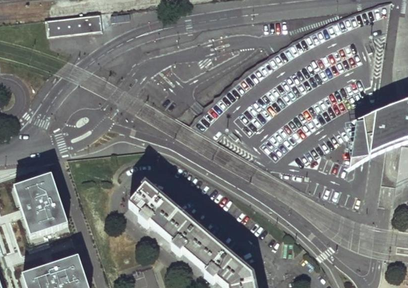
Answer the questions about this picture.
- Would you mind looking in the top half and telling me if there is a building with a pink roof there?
No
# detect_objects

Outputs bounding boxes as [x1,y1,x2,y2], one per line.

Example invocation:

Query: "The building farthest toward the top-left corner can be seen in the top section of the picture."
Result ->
[45,15,102,40]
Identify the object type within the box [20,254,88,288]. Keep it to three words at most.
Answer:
building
